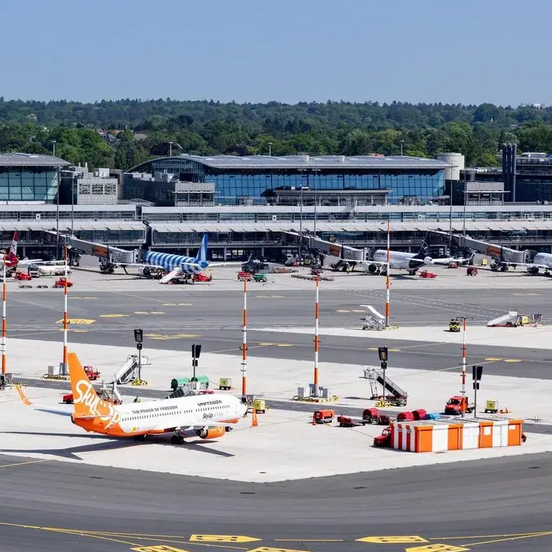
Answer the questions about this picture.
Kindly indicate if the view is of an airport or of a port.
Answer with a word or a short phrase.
airport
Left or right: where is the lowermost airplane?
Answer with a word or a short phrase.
left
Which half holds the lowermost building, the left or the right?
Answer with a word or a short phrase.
right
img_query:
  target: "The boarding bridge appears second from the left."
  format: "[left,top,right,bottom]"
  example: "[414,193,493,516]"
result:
[278,229,379,267]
